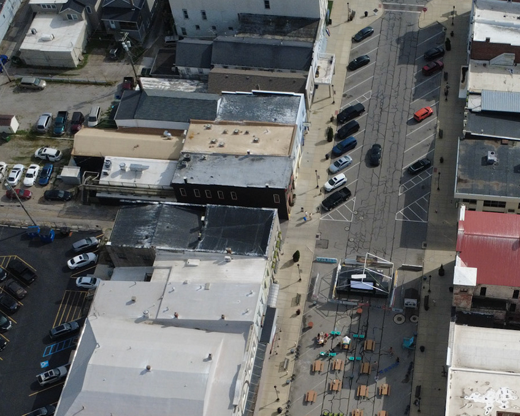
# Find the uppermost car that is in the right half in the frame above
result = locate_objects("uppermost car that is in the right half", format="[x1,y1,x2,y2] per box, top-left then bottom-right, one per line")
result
[352,28,375,43]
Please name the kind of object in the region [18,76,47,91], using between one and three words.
car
